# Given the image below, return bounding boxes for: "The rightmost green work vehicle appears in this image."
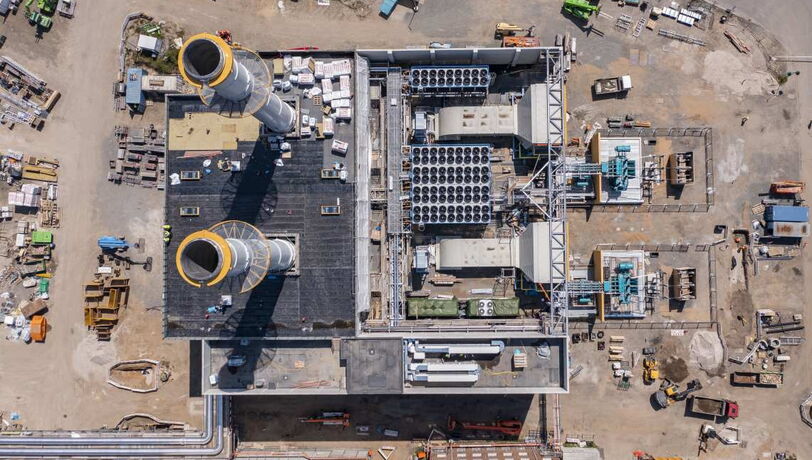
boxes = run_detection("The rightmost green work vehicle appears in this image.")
[566,0,615,22]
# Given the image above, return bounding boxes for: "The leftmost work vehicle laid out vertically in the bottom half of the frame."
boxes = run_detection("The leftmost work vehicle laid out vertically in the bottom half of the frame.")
[641,347,657,379]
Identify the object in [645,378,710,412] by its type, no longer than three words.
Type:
work vehicle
